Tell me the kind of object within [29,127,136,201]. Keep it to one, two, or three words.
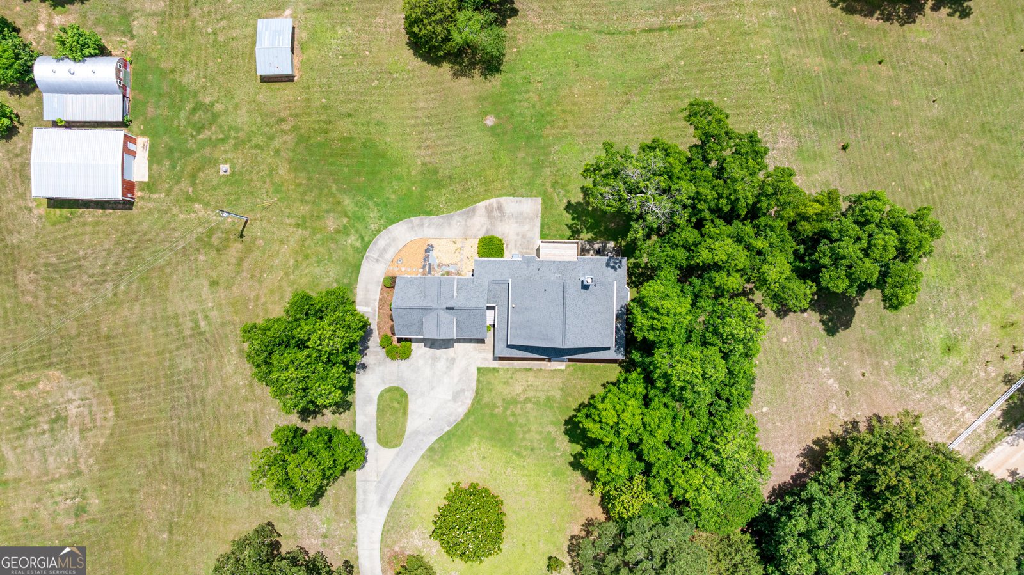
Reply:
barn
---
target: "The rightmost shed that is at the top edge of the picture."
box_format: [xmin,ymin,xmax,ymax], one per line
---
[256,19,294,77]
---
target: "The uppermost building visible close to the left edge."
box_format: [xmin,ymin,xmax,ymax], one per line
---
[34,55,132,123]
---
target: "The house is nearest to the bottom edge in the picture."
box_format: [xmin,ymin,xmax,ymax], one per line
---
[392,256,630,361]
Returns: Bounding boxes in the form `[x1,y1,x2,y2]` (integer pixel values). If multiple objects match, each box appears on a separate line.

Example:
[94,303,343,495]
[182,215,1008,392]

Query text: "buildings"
[34,55,132,123]
[256,19,294,77]
[29,127,136,201]
[392,256,630,361]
